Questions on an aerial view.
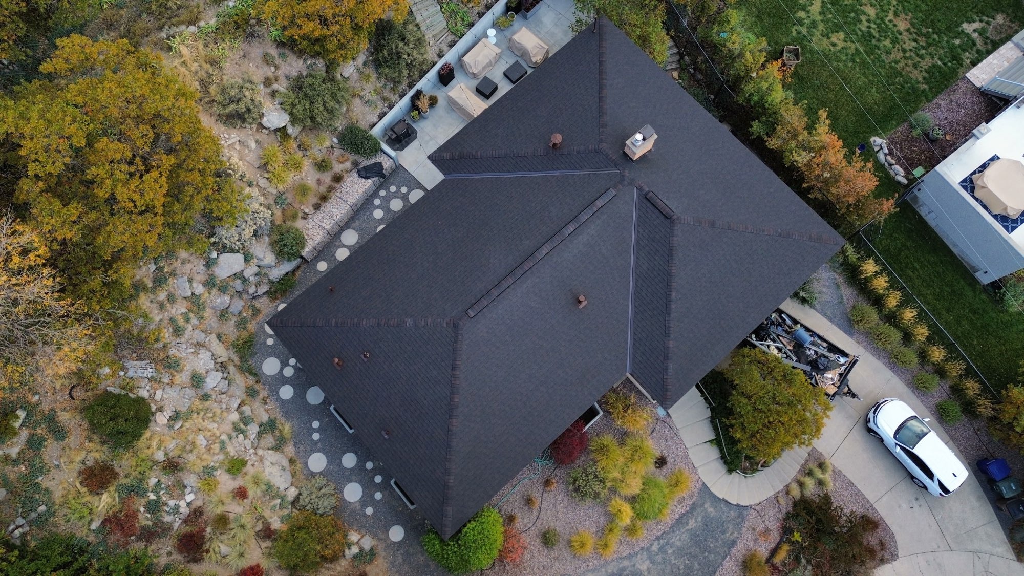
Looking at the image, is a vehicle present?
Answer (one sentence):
Yes, the photo shows a vehicle.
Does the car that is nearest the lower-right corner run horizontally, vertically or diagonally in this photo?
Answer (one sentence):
Seen from above, the car that is nearest the lower-right corner lies diagonally.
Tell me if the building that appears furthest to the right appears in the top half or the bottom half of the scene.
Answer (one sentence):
You can find the building that appears furthest to the right in the top half.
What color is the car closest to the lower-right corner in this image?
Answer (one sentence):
In this view, the car closest to the lower-right corner is white.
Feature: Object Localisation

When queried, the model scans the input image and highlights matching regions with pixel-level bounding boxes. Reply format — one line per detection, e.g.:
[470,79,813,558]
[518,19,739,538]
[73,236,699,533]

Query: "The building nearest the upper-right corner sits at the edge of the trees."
[899,97,1024,282]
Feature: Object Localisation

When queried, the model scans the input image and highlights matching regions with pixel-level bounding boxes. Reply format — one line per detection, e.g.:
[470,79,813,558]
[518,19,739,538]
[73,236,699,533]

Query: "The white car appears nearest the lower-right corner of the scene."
[859,400,968,498]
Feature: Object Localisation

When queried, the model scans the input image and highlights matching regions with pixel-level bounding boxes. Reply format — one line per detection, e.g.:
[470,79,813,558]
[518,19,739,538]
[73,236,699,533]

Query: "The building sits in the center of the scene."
[266,16,845,542]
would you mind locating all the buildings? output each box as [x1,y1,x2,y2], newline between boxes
[266,16,845,542]
[899,97,1024,282]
